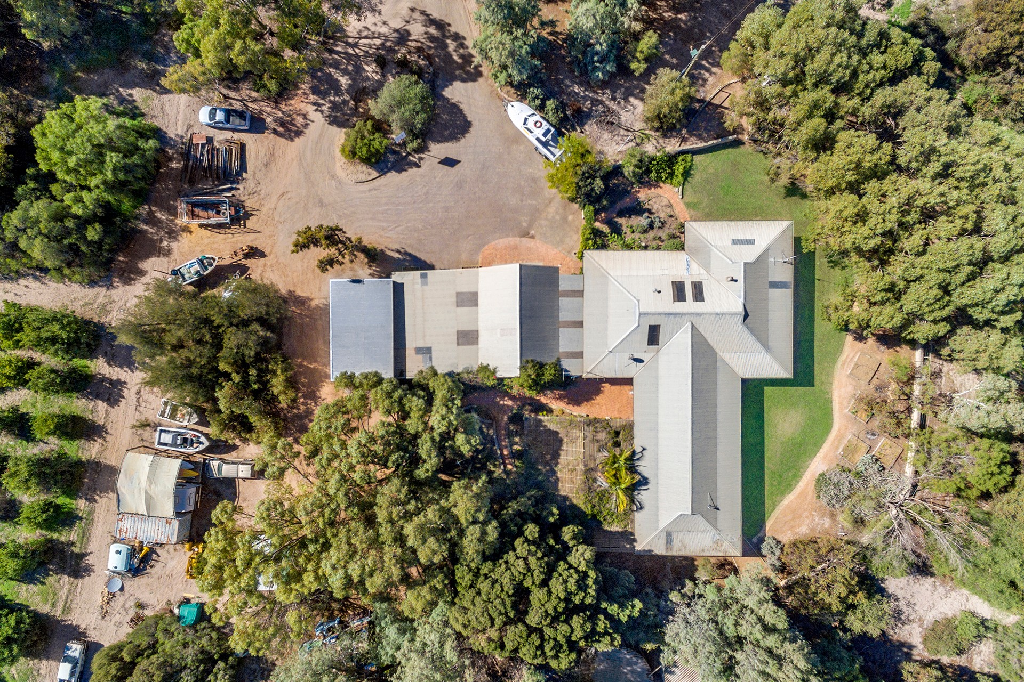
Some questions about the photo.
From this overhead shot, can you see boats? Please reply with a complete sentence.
Yes, a boat can be made out from above.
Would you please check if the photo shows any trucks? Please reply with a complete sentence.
Yes, the photo shows a truck.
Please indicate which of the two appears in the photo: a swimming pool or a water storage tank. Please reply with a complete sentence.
Looking from above, you can make out a water storage tank.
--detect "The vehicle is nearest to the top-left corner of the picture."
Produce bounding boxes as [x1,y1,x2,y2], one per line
[195,101,250,129]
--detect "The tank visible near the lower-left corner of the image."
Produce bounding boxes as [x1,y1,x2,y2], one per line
[99,544,130,577]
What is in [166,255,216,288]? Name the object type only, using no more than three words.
boat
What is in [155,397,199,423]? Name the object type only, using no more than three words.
boat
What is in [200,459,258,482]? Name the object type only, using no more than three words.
truck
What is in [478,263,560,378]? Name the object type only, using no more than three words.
shed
